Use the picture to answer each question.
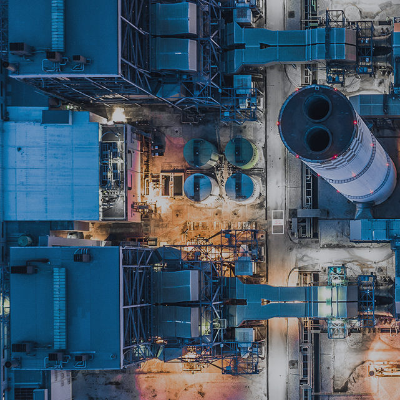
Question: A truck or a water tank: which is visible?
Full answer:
Visible in the photo is a water tank.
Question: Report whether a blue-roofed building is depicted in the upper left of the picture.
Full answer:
Yes, looking in the upper left of the picture, one can make out a blue-roofed building.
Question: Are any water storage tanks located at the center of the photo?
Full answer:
Yes, a water storage tank appears at the center of the photo.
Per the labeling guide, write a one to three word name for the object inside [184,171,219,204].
water tank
